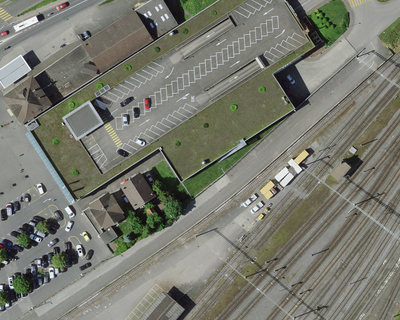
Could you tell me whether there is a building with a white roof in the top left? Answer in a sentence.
Yes, a building with a white roof can be seen in the top left.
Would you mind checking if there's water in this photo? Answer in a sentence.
No, the picture contains no water.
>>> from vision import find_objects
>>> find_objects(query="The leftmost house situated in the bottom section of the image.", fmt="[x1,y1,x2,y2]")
[89,192,123,244]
